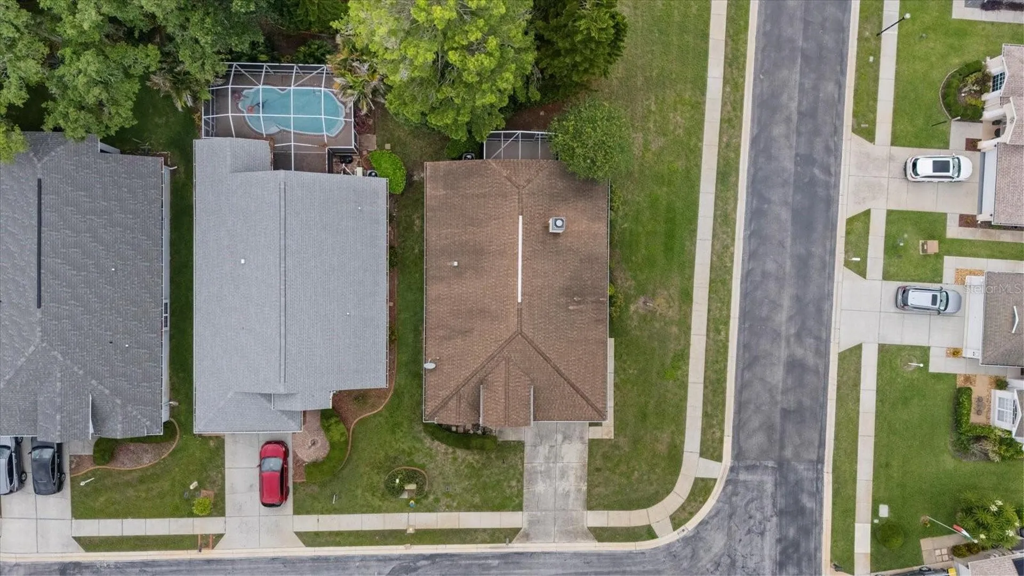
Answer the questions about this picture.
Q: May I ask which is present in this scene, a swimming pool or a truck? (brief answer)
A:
swimming pool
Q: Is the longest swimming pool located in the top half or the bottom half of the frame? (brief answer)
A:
top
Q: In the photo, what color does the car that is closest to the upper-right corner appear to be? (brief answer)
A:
white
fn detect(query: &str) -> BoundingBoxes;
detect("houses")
[192,136,391,435]
[956,545,1024,576]
[0,131,178,443]
[963,269,1024,438]
[423,158,610,427]
[977,42,1024,228]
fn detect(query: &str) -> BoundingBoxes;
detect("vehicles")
[893,284,962,318]
[903,151,973,185]
[28,437,66,495]
[0,437,26,494]
[255,441,290,505]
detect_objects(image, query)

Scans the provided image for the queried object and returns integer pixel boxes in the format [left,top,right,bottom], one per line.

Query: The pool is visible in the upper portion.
[238,84,346,137]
